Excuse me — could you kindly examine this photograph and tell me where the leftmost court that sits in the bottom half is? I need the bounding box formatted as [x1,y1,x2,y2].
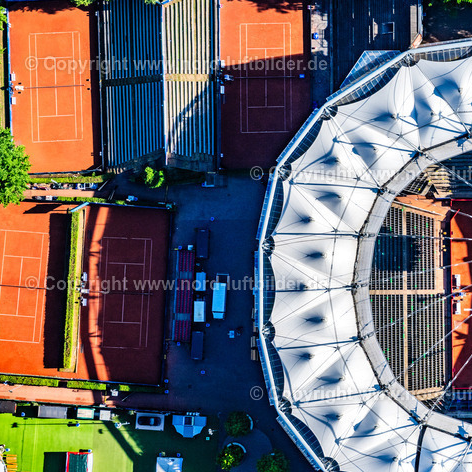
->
[0,202,79,379]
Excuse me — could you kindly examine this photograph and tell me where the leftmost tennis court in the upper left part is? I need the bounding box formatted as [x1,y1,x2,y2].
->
[6,1,102,173]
